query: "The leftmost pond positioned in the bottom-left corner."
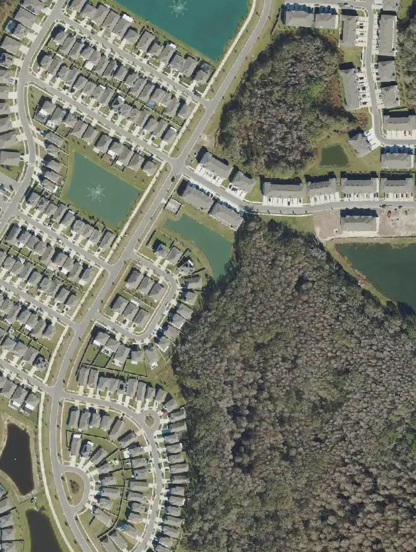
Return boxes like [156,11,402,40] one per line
[0,423,34,496]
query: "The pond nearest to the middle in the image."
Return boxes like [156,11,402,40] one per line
[164,215,233,281]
